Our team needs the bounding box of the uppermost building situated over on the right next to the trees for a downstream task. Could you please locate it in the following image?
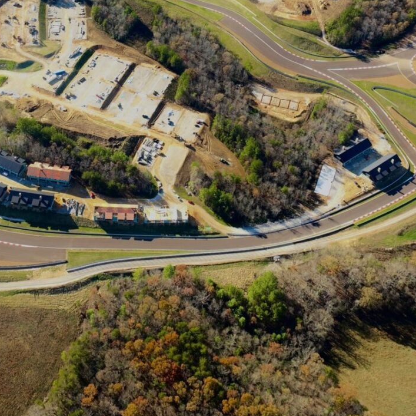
[329,137,373,170]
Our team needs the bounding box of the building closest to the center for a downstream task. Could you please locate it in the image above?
[143,207,188,228]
